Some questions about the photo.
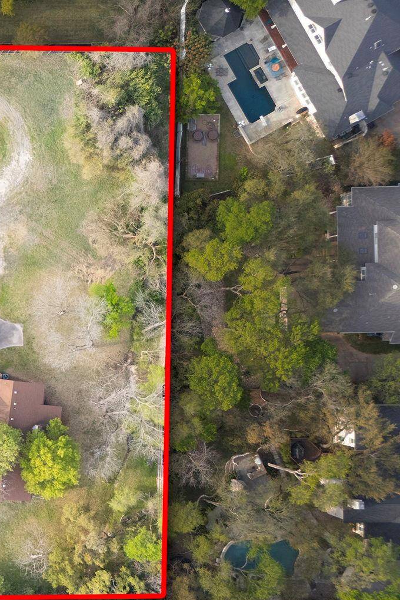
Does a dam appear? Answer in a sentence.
No, no dam can be seen from above.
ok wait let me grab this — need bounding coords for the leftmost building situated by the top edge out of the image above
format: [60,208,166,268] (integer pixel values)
[194,0,241,41]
